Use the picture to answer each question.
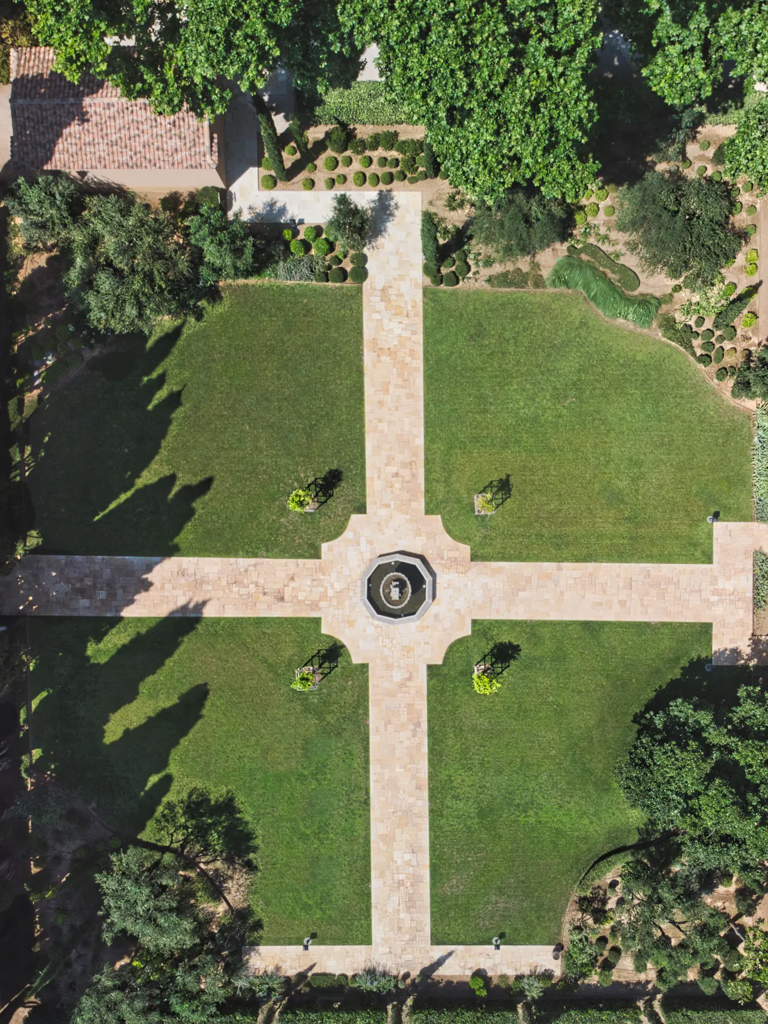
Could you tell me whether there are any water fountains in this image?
Yes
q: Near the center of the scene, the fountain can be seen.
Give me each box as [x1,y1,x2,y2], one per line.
[363,554,430,625]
